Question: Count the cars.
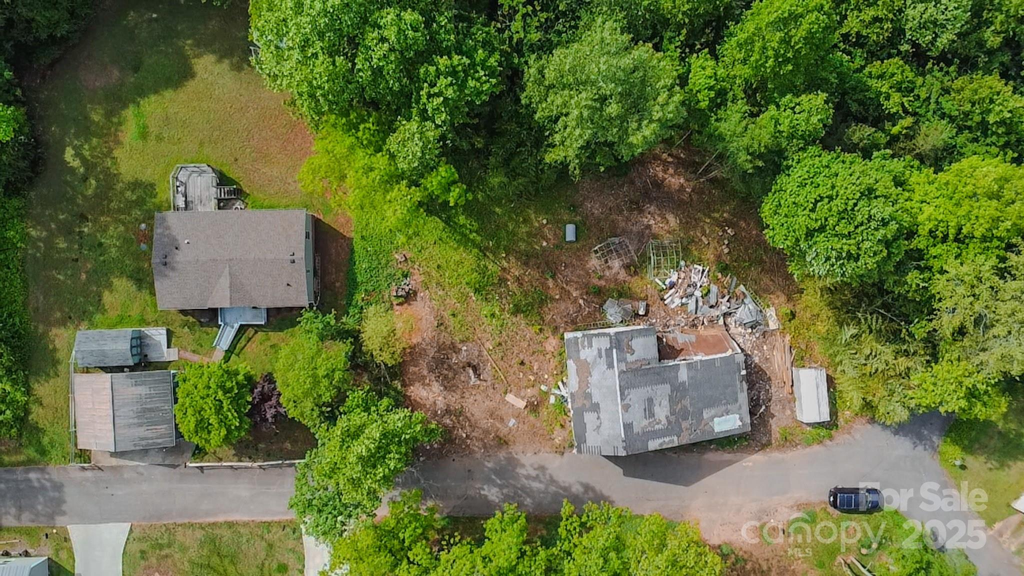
1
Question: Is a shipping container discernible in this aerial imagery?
No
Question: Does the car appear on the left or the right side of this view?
right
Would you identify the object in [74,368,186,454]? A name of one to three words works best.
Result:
building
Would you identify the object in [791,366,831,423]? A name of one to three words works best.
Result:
shed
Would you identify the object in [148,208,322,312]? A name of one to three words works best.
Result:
house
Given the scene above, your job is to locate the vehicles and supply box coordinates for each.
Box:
[827,487,881,513]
